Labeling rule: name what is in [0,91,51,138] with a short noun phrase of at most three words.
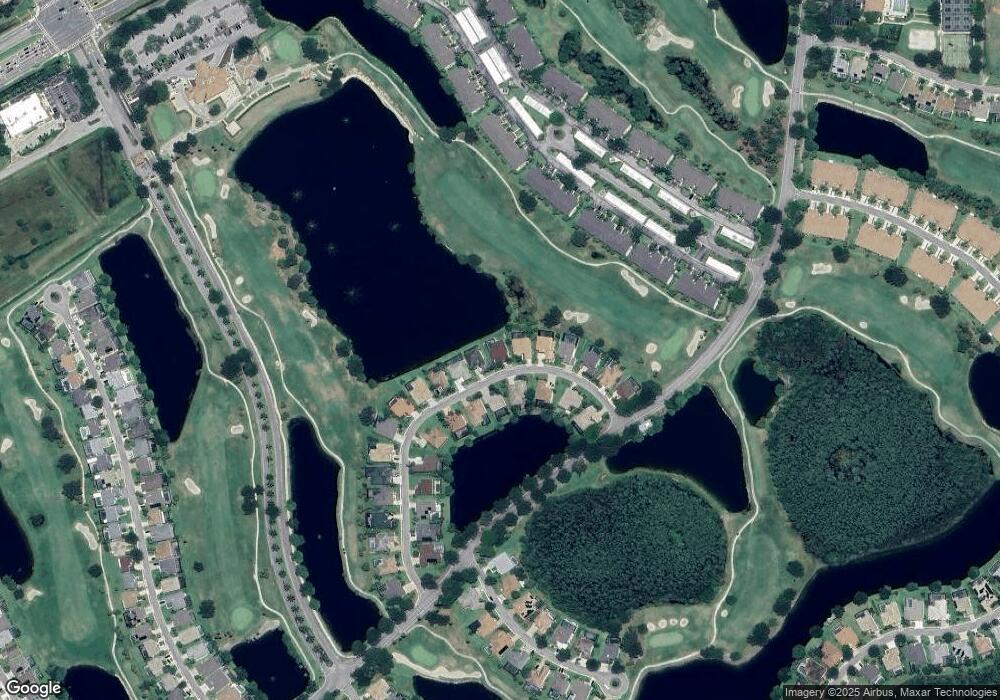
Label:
building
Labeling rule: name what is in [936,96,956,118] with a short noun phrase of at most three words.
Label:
house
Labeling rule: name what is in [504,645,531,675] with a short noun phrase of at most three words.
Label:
house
